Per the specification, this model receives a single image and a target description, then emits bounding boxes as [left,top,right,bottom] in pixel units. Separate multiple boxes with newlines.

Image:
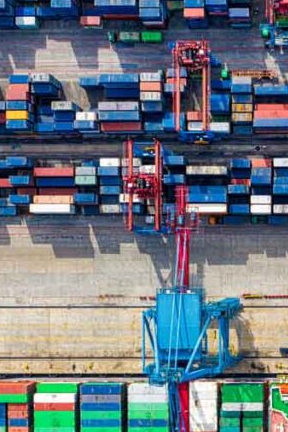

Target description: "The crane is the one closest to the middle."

[121,138,180,240]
